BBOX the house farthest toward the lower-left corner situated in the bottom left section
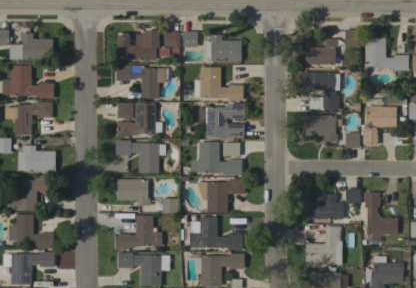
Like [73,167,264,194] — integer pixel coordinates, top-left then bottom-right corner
[4,252,55,284]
